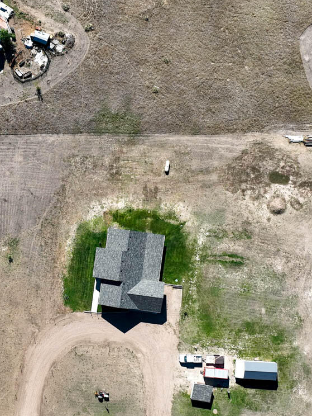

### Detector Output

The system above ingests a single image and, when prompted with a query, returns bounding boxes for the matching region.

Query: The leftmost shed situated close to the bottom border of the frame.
[190,381,213,404]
